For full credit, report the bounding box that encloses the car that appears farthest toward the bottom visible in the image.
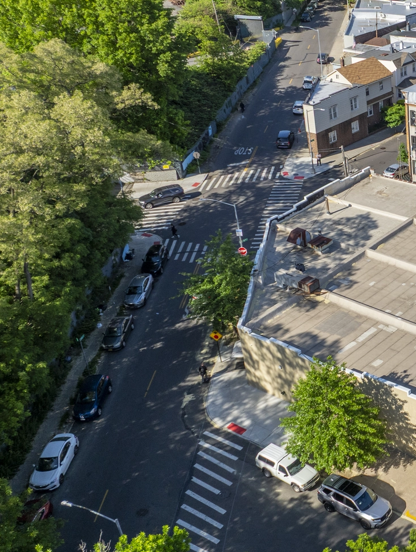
[307,470,390,531]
